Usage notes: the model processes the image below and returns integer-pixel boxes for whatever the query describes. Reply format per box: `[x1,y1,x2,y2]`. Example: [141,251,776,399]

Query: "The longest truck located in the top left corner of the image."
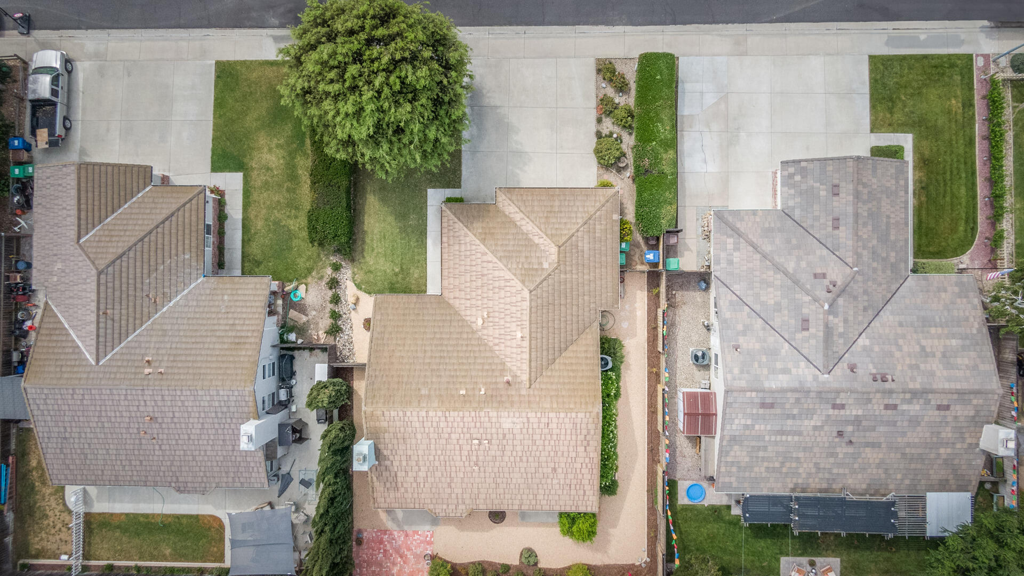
[25,49,73,148]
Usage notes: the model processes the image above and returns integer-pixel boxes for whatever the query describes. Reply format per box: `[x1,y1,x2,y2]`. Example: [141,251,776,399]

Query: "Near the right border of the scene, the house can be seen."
[709,155,1015,494]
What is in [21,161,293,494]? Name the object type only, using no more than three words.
house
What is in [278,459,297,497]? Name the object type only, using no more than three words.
umbrella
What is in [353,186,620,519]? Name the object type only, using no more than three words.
house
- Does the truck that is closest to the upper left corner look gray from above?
Yes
